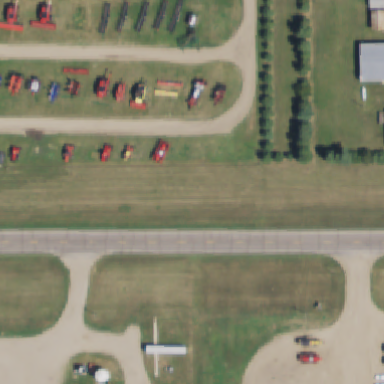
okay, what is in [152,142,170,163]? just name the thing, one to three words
work vehicle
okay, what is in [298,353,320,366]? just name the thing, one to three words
vehicle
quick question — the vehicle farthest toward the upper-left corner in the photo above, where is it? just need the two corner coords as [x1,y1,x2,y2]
[0,2,24,32]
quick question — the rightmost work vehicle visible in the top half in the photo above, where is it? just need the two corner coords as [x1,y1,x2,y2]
[213,86,226,104]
